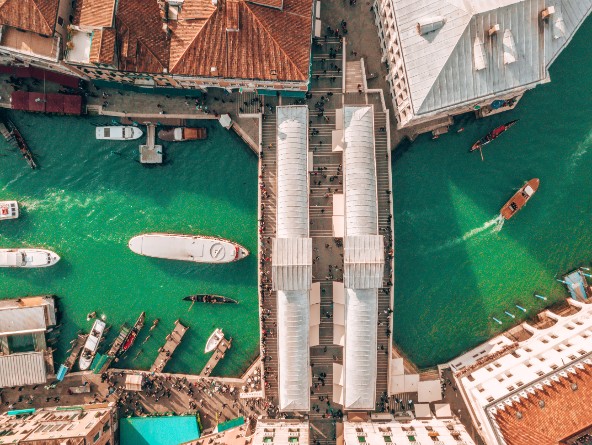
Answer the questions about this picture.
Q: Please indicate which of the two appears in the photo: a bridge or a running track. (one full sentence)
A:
This aerial view contains a bridge.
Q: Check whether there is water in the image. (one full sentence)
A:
Yes, there's water in this view.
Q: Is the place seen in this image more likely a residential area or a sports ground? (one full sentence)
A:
This looks like a residential area.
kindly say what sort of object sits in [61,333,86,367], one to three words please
pier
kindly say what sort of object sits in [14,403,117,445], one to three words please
house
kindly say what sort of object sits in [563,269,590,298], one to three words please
pier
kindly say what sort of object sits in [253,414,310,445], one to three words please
house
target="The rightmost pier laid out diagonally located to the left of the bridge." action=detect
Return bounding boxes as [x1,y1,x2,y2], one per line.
[202,338,232,376]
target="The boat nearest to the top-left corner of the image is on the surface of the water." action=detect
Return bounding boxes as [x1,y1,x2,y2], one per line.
[5,117,34,169]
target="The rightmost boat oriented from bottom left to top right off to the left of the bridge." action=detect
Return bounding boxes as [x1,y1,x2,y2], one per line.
[205,328,224,353]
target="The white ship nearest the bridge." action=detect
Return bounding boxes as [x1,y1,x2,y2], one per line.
[127,235,249,264]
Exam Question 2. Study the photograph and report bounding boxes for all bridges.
[258,85,395,416]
